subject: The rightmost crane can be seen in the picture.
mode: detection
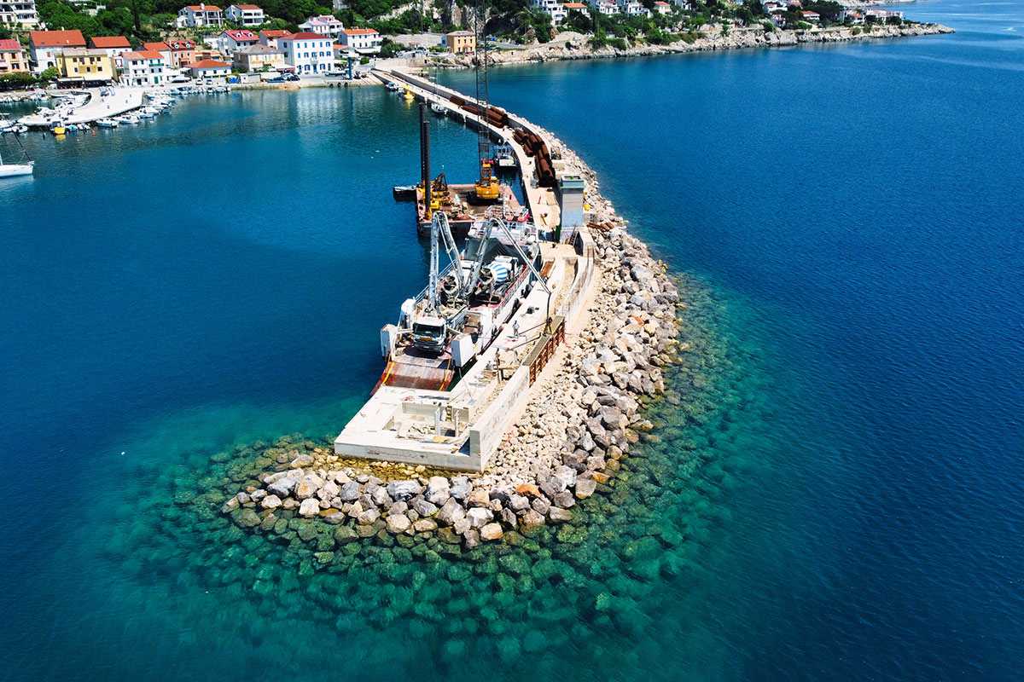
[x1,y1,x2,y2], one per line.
[471,0,504,204]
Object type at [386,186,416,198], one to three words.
boat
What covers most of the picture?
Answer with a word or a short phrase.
water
